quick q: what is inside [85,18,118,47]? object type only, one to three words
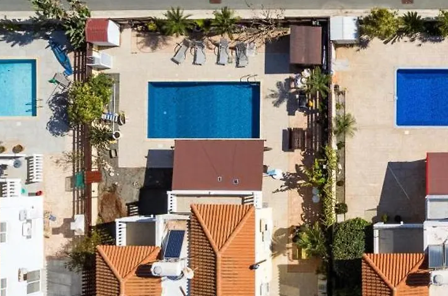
shed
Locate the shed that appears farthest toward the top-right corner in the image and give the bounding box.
[331,17,360,43]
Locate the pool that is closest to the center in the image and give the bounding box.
[145,73,261,140]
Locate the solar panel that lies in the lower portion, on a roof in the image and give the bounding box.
[163,229,185,260]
